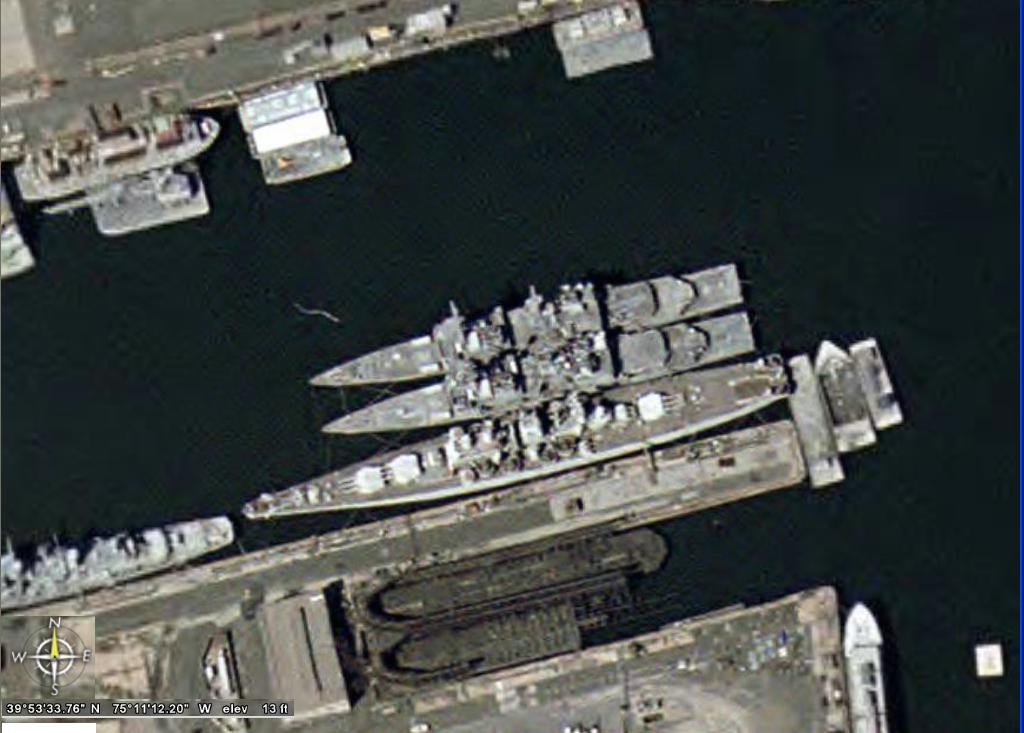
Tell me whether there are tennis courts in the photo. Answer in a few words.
No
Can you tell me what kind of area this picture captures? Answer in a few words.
port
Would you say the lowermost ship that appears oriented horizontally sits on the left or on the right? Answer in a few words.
left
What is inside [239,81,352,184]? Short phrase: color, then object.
white ship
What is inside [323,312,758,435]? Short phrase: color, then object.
gray vessel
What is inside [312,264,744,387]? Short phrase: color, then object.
gray vessel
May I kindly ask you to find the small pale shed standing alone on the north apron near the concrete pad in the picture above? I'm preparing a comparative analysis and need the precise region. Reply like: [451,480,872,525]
[54,15,74,37]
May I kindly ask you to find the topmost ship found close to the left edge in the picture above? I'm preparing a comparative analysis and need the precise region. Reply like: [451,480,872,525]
[15,104,219,201]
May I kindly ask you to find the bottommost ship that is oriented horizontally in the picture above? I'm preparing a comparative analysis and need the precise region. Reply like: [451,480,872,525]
[0,516,234,612]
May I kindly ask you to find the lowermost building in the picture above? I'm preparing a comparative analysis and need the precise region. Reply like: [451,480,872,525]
[263,591,350,725]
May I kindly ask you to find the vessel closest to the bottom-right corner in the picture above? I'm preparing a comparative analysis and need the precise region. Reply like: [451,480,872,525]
[845,603,887,733]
